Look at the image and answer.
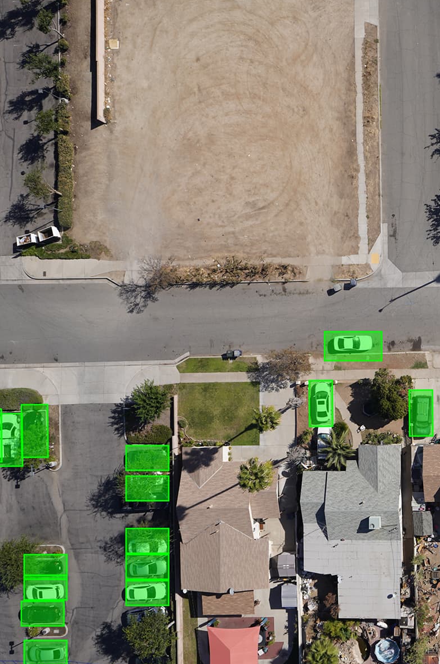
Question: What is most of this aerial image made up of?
paved ground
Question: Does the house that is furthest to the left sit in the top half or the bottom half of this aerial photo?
bottom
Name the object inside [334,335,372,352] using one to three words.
car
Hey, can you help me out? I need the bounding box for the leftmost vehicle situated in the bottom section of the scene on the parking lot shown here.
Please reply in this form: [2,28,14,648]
[0,415,20,458]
